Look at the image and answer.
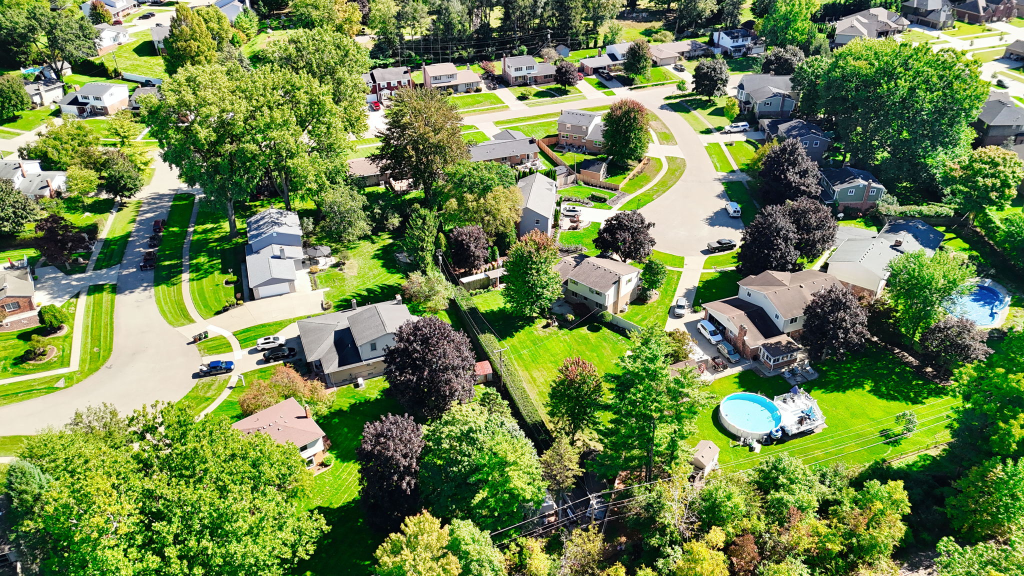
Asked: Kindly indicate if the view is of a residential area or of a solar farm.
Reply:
residential area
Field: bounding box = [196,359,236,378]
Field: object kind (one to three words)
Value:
vehicle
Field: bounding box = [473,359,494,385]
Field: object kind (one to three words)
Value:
shed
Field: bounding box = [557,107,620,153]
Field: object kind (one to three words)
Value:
house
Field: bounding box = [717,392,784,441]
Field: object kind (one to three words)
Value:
swimming pool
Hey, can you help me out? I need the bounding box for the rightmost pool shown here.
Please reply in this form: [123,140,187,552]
[948,283,1014,329]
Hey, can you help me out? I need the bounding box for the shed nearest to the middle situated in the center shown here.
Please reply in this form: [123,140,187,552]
[454,265,507,293]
